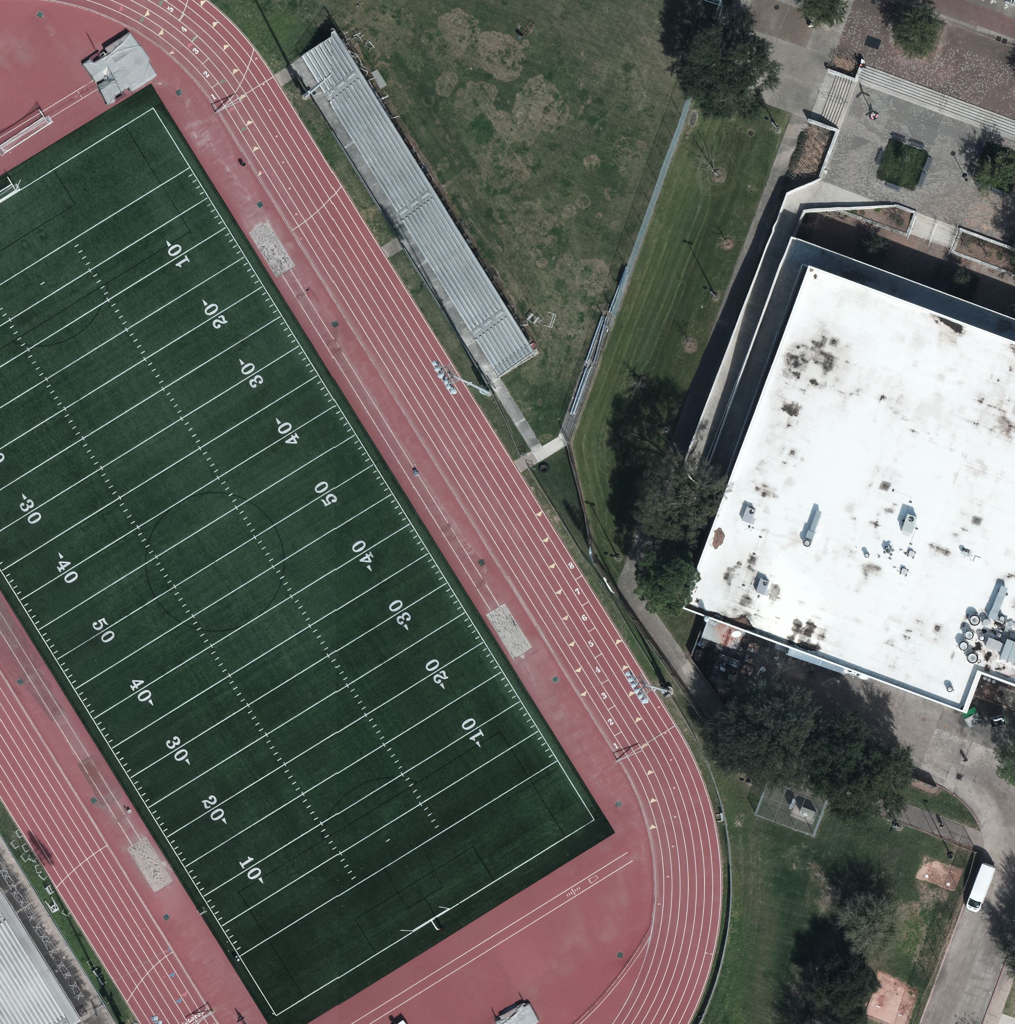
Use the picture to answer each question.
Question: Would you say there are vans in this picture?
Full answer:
Yes, there's a van here.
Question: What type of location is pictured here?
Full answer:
It's a sports ground.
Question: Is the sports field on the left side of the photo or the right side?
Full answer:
The sports field appears in the left half of the scene.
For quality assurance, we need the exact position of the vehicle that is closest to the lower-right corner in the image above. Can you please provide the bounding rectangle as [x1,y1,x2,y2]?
[967,864,995,913]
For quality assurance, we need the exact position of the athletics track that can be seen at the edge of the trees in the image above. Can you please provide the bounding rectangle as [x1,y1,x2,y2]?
[0,0,722,1024]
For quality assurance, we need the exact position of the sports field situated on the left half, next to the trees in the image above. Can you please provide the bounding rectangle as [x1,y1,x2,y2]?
[0,83,614,1024]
